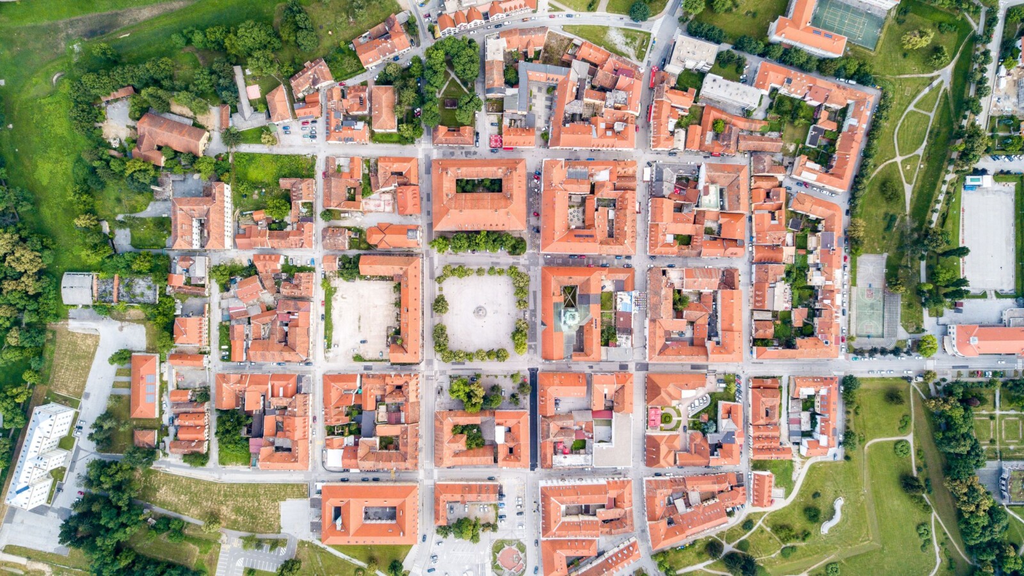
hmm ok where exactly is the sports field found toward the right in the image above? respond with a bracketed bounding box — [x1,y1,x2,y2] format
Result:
[962,186,1015,293]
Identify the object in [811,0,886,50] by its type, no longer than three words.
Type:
sports court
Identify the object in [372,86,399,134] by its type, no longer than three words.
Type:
building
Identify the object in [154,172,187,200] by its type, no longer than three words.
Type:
shed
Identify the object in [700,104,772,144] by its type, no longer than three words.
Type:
house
